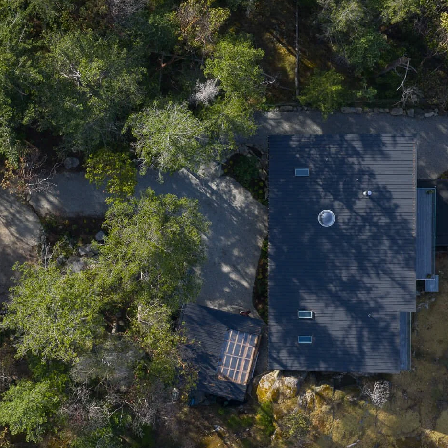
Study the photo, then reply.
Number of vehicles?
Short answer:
none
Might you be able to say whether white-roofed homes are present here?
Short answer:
No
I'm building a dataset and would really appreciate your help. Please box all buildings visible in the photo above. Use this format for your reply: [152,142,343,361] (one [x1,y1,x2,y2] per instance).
[166,304,266,404]
[266,132,440,374]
